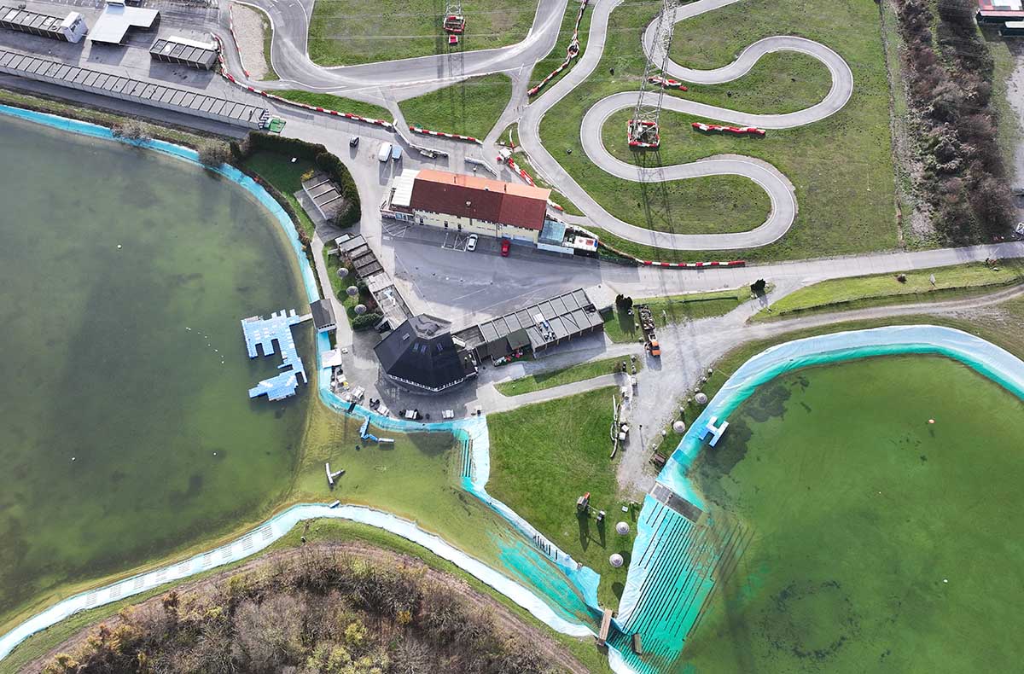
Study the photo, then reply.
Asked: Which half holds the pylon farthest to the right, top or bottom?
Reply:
top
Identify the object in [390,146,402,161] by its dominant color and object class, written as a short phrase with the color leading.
white vehicle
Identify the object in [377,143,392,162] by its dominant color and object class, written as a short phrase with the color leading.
white vehicle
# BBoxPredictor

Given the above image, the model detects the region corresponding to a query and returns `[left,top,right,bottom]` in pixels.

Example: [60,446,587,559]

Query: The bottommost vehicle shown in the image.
[645,329,665,357]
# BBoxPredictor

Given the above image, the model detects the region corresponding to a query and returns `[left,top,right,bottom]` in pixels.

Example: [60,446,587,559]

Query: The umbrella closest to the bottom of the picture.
[609,554,622,568]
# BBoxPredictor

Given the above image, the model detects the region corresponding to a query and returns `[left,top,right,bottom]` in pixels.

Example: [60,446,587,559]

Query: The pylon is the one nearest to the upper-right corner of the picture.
[625,0,684,146]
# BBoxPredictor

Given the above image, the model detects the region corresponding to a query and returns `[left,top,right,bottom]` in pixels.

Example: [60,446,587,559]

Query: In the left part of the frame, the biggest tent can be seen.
[321,349,344,374]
